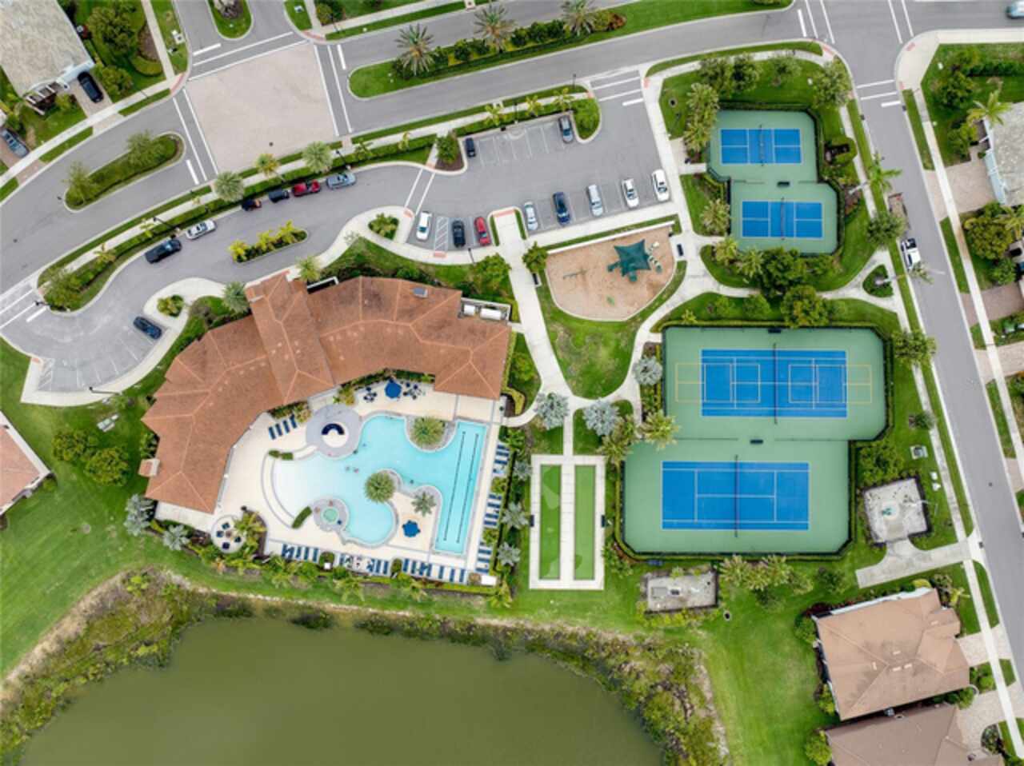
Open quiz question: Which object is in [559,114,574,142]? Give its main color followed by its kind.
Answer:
gray car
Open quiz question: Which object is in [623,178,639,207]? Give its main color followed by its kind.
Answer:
white car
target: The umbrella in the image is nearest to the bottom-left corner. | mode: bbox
[403,521,418,536]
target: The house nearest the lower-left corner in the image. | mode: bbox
[0,423,48,512]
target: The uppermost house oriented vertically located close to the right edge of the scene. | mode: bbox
[975,101,1024,208]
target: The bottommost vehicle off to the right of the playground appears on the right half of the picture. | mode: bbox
[903,236,923,271]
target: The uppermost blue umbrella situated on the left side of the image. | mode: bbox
[385,382,402,399]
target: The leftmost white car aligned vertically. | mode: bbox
[415,211,430,239]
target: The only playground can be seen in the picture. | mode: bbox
[546,225,676,322]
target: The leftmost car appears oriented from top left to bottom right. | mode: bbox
[0,126,24,154]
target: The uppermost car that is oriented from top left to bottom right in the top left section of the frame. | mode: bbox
[75,69,99,100]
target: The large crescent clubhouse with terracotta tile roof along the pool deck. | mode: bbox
[137,270,512,515]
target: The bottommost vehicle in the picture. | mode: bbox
[131,316,160,338]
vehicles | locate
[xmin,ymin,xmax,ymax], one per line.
[464,136,475,156]
[131,316,160,338]
[474,216,489,245]
[142,239,180,262]
[623,178,639,207]
[652,168,669,199]
[266,186,289,202]
[239,196,263,211]
[291,180,319,196]
[554,192,570,222]
[75,69,99,100]
[588,185,603,214]
[325,171,356,187]
[184,220,215,239]
[523,201,538,230]
[903,236,923,271]
[415,211,430,239]
[559,114,574,142]
[0,126,24,154]
[452,218,465,247]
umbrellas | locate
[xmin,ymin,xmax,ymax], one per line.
[385,382,402,399]
[403,521,418,536]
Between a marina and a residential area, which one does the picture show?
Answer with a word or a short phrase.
residential area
